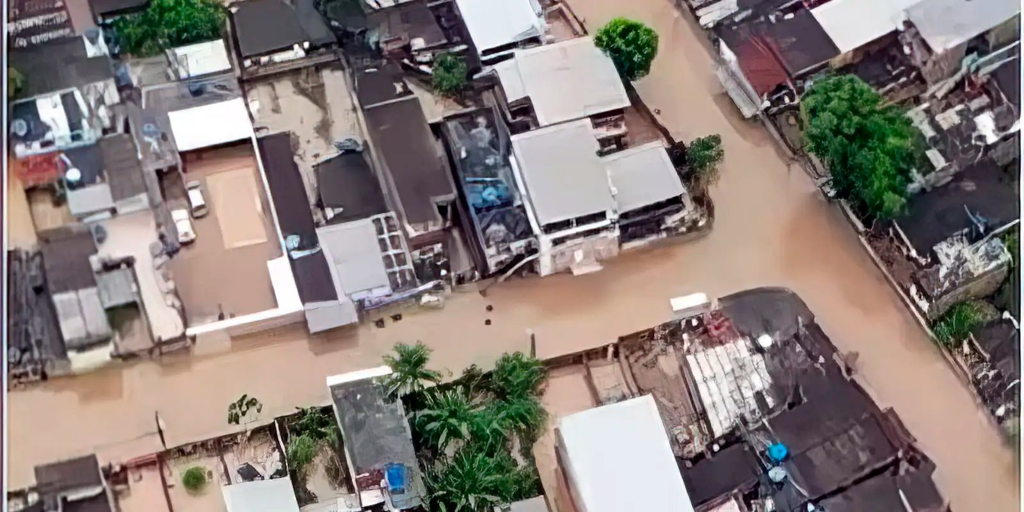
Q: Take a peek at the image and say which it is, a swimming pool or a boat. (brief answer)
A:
swimming pool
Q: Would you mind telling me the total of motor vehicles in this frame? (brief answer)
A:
three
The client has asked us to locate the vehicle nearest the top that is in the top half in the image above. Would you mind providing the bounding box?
[186,183,211,220]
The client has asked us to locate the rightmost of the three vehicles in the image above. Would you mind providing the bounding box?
[670,293,710,314]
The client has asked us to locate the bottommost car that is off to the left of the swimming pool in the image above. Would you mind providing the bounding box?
[170,211,198,250]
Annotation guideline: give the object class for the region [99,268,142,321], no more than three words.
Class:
shed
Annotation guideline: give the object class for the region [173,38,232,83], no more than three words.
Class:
house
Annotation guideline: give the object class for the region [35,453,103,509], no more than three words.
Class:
house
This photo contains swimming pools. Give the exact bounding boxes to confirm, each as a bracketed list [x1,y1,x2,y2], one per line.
[205,165,268,250]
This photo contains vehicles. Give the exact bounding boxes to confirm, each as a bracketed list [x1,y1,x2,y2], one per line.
[670,293,710,314]
[170,211,198,250]
[186,183,211,220]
